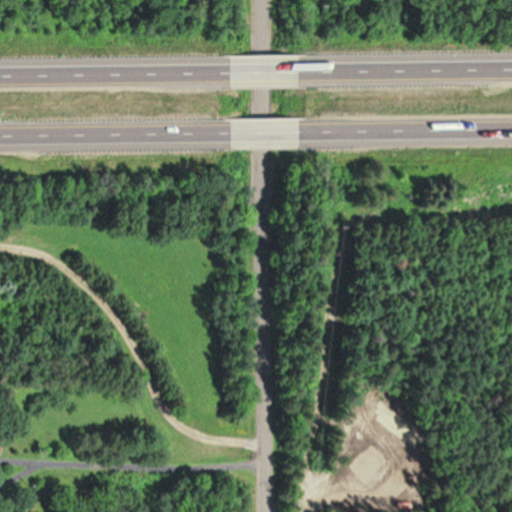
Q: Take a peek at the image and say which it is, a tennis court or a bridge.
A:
bridge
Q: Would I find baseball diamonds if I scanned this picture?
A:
No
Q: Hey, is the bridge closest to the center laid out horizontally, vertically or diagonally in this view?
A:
horizontally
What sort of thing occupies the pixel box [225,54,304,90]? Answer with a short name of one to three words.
bridge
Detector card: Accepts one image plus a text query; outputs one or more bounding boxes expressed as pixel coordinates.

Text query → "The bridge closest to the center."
[225,118,304,150]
